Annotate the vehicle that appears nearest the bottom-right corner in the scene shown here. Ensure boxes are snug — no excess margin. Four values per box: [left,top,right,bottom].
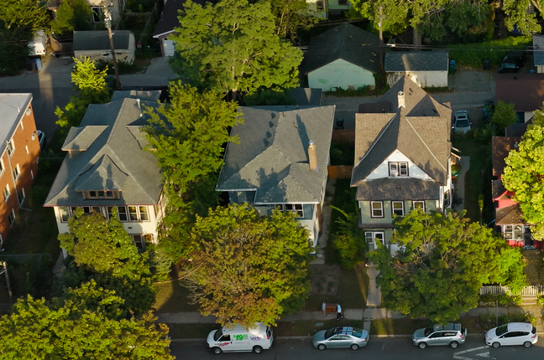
[485,322,538,348]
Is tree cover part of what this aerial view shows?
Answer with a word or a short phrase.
Yes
